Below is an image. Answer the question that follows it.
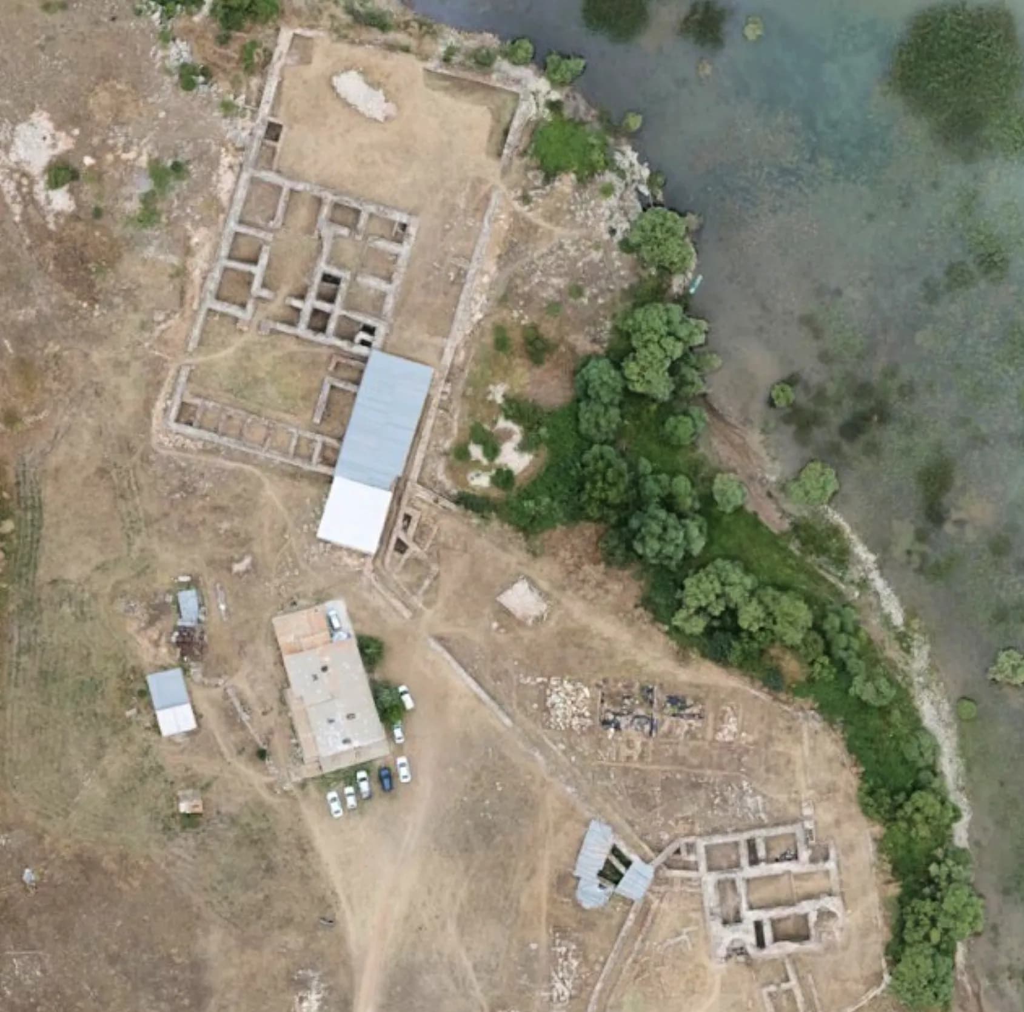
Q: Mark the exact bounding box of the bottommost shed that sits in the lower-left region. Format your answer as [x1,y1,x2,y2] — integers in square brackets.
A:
[179,786,204,813]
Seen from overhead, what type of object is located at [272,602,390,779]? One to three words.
house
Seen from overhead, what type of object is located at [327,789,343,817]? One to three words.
car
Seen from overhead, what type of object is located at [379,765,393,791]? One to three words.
car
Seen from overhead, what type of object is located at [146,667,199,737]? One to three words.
shed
